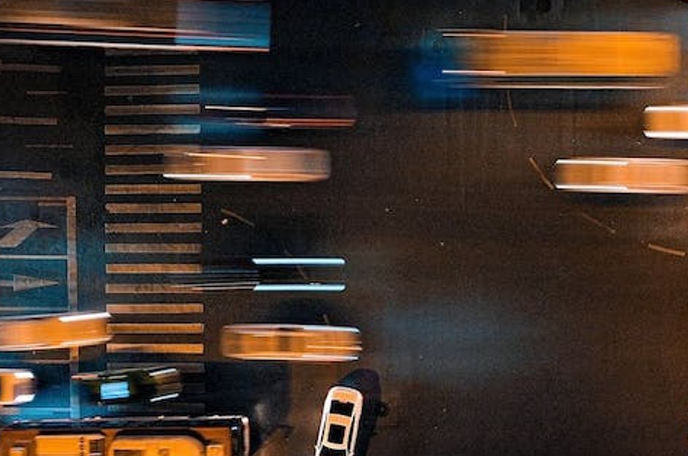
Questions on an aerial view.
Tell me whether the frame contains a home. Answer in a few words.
No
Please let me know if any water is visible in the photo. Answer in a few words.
No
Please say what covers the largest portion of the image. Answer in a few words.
paved ground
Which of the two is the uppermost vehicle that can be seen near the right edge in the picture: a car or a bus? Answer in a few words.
bus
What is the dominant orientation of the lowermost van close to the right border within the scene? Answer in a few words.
from left to right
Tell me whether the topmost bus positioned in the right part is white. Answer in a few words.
No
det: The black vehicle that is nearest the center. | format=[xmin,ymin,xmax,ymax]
[248,252,348,297]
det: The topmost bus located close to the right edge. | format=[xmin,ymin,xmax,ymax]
[448,29,679,96]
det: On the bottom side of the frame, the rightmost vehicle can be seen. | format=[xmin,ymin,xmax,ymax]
[314,385,365,456]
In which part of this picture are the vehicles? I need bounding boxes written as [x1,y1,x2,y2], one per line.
[248,252,348,297]
[206,142,294,185]
[448,29,679,96]
[579,152,677,197]
[2,412,252,456]
[11,0,280,62]
[314,385,365,456]
[84,363,179,406]
[243,321,342,366]
[0,368,36,405]
[6,310,96,353]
